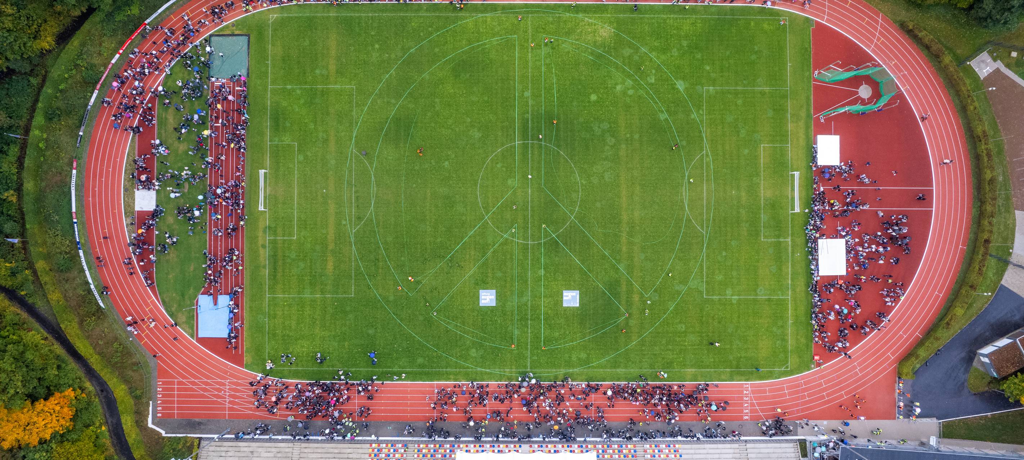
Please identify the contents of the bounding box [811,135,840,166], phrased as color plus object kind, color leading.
white tent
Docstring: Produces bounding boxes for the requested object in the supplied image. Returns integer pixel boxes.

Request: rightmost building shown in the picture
[978,330,1024,379]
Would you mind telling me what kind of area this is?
sports ground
